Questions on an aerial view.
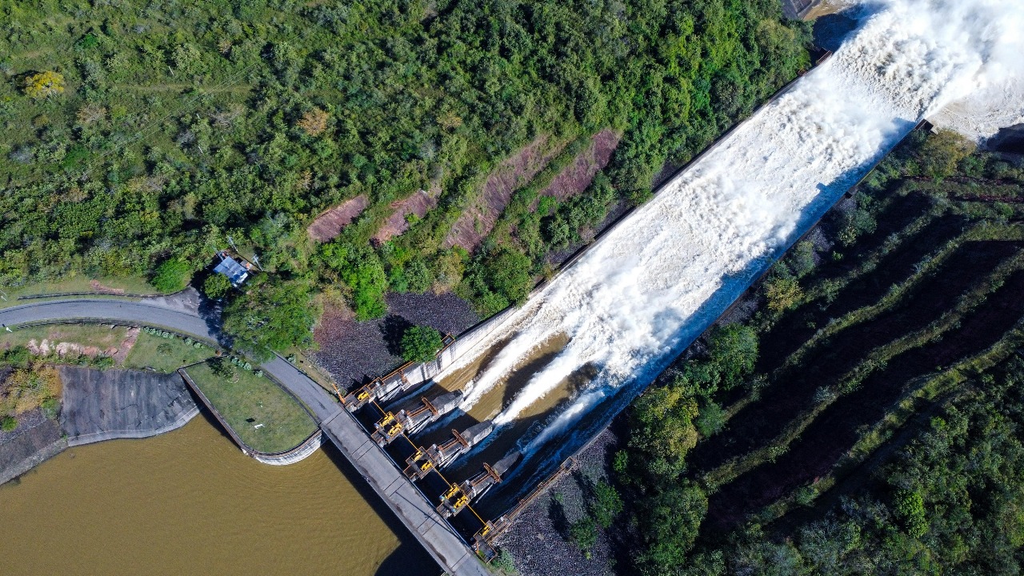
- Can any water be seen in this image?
Yes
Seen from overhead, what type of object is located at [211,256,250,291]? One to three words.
house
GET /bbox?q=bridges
[321,405,502,576]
